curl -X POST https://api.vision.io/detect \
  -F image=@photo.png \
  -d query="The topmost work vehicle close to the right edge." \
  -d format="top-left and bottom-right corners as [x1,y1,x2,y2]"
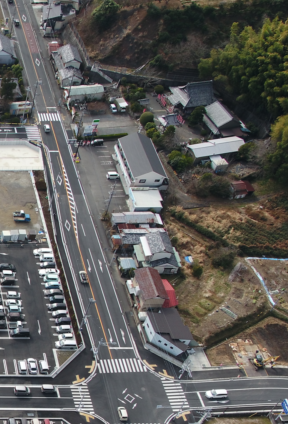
[246,352,277,369]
